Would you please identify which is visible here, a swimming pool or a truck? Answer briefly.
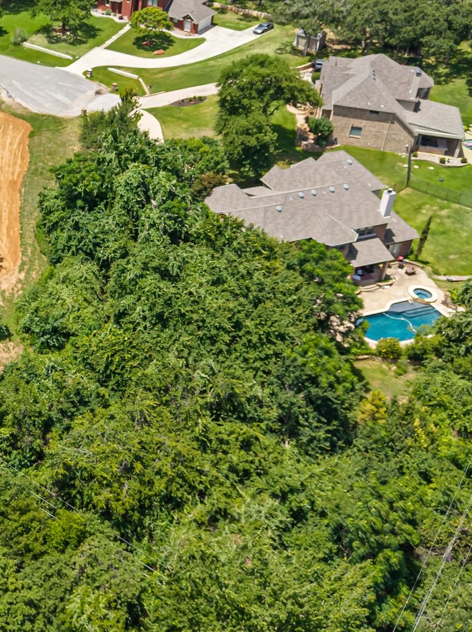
swimming pool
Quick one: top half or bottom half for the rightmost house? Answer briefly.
top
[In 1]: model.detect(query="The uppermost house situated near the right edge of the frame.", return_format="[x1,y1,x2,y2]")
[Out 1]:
[314,53,466,158]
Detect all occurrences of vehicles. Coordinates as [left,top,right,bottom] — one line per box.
[251,24,276,35]
[311,58,324,73]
